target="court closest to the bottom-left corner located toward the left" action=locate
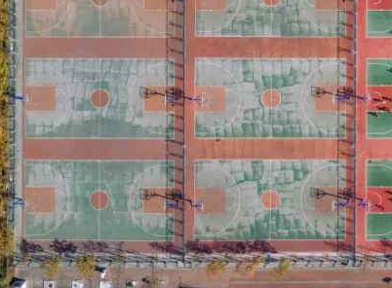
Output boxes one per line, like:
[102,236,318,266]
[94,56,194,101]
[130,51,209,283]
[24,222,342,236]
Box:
[26,160,175,241]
